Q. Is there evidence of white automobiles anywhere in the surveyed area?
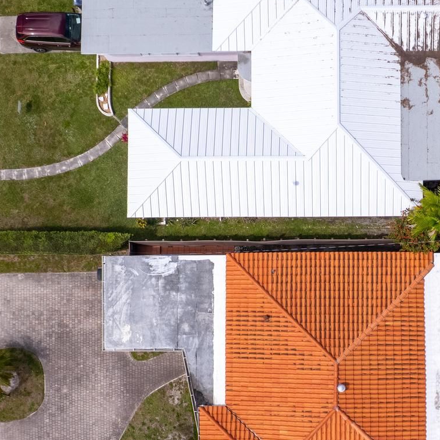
No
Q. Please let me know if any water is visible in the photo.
No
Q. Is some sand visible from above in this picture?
No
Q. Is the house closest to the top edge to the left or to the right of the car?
to the right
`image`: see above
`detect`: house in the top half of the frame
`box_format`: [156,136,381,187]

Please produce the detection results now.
[81,0,440,219]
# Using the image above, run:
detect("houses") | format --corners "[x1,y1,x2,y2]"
[102,250,440,440]
[81,0,440,219]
